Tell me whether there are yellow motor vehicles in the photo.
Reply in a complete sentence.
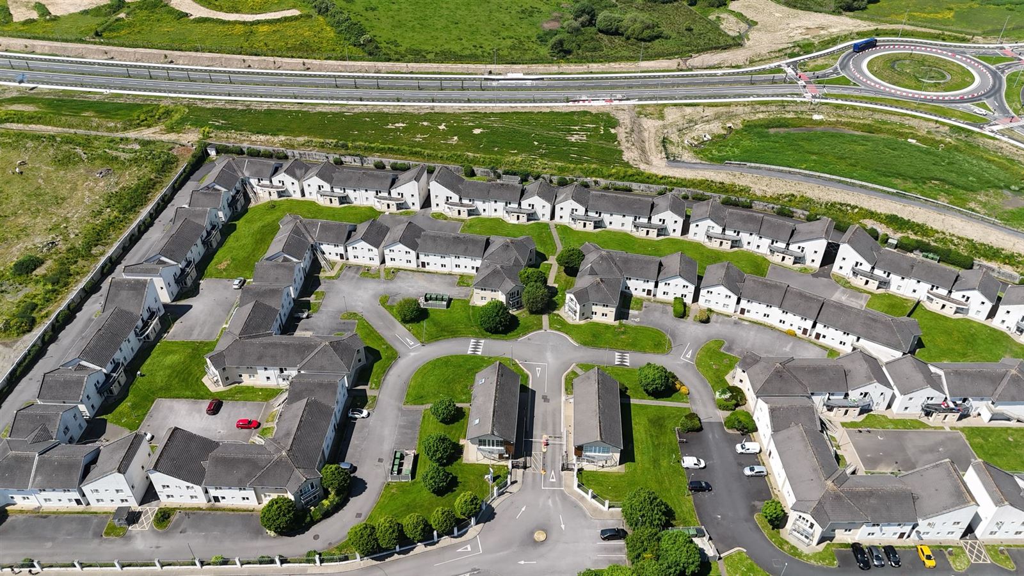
Yes, I can see a yellow motor vehicle in this picture.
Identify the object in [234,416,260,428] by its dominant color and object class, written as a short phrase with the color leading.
red vehicle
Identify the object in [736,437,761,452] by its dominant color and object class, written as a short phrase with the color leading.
white vehicle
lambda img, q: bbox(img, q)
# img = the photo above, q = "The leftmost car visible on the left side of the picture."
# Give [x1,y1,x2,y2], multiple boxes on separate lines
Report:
[142,431,154,448]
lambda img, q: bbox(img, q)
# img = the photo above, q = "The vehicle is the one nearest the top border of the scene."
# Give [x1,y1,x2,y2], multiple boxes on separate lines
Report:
[854,36,879,50]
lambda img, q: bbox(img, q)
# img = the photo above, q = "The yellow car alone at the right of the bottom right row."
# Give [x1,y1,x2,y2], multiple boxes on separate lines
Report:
[915,542,938,569]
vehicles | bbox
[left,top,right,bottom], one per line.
[234,416,260,428]
[332,458,356,476]
[600,526,627,540]
[854,36,879,50]
[346,405,370,417]
[744,464,768,476]
[736,437,761,452]
[866,543,886,567]
[882,543,902,567]
[687,479,713,492]
[204,396,221,413]
[142,431,154,448]
[850,542,872,569]
[915,542,938,569]
[681,453,706,468]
